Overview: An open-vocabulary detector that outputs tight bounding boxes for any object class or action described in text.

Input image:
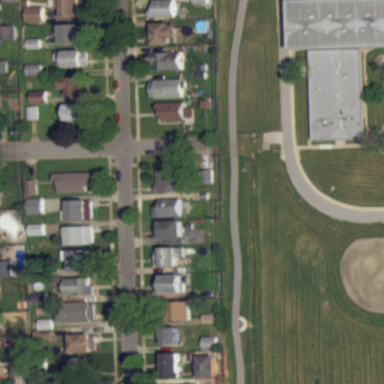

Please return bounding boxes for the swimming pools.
[0,212,22,242]
[196,20,210,32]
[34,281,44,292]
